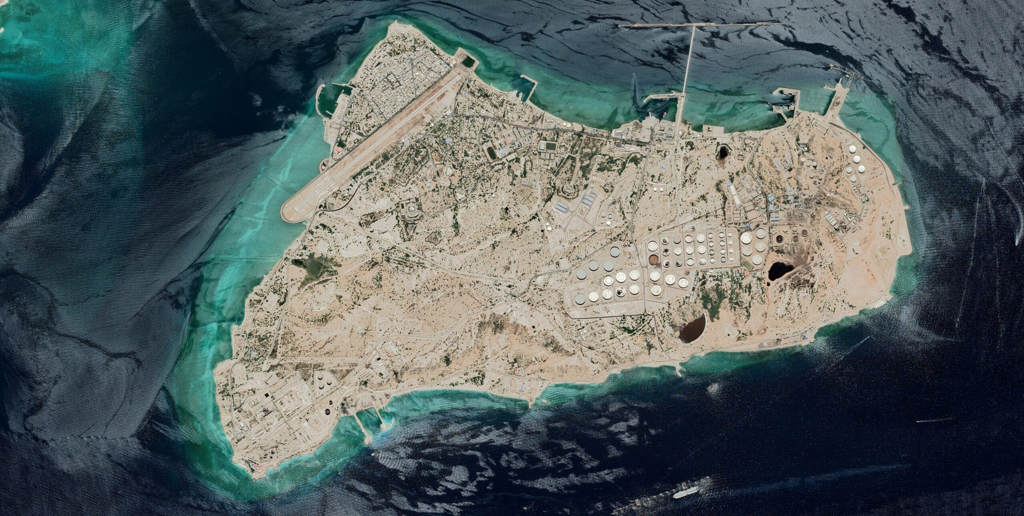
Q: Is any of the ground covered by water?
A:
Yes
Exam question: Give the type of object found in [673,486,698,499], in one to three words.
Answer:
ship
